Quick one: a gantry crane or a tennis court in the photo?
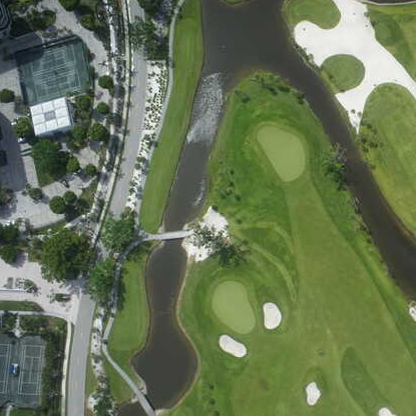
tennis court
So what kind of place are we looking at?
golf course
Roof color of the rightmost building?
white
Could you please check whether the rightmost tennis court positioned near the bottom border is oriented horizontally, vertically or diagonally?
vertically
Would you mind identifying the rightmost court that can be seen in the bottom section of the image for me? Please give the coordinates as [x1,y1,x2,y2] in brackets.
[12,332,49,407]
